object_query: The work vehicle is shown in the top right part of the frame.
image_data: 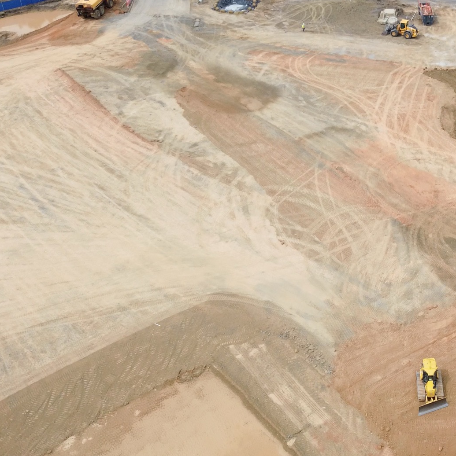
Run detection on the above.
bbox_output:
[386,19,419,38]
